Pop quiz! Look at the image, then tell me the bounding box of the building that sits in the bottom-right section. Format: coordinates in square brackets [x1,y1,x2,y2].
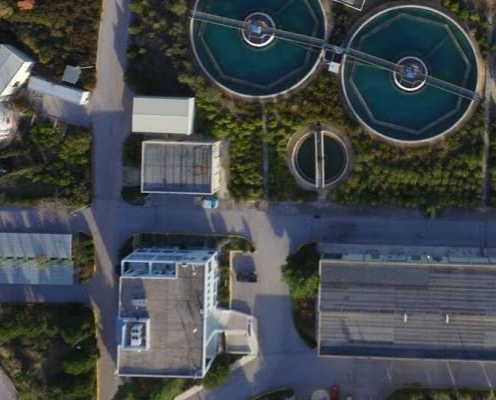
[317,247,496,364]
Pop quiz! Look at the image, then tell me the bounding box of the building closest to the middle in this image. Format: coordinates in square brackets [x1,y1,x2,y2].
[140,139,220,195]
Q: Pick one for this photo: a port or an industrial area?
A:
industrial area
